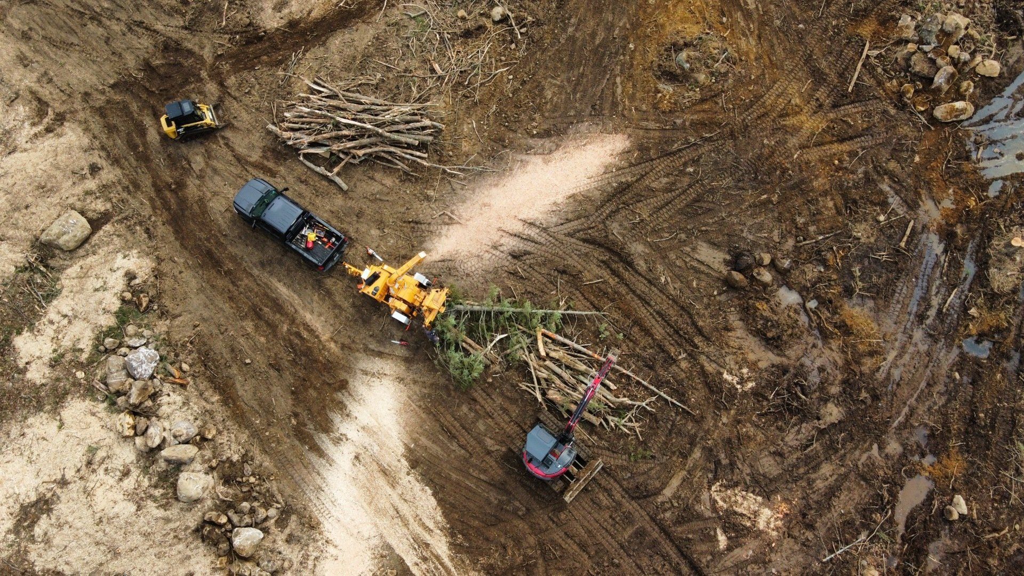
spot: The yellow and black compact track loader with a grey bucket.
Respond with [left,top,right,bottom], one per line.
[161,100,233,144]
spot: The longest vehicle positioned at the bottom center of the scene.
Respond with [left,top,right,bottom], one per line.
[512,345,623,502]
